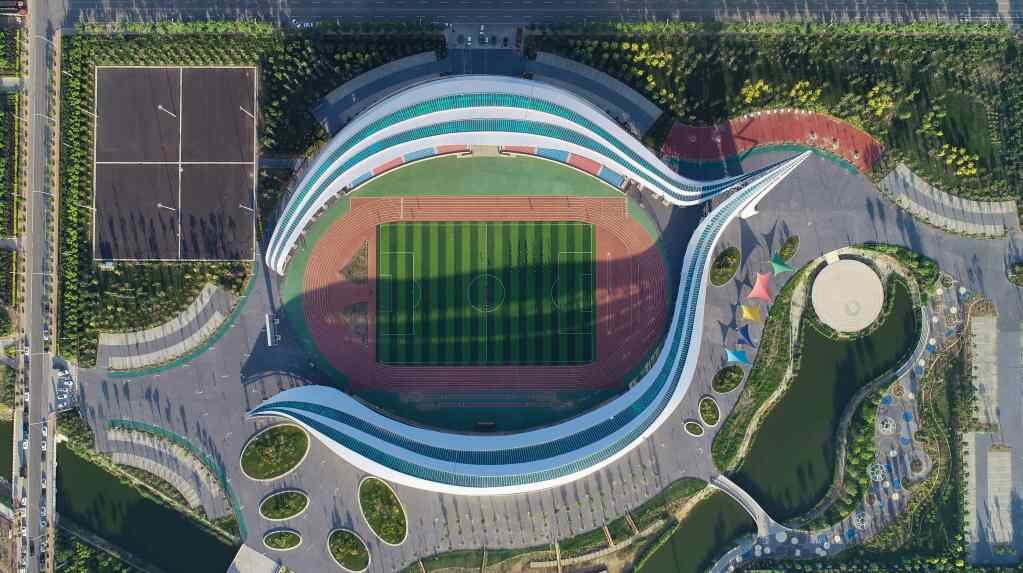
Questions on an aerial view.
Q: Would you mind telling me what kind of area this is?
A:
sports ground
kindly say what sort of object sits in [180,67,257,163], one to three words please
sports court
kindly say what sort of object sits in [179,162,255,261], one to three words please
sports court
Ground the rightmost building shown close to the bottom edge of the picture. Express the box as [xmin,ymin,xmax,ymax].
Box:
[230,539,284,573]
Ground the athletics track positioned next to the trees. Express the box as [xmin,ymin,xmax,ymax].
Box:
[302,197,667,389]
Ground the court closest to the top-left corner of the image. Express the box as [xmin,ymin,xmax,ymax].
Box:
[95,67,181,162]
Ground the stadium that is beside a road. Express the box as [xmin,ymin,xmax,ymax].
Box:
[250,75,811,495]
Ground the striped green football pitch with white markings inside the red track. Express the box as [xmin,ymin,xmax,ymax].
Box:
[377,222,596,363]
